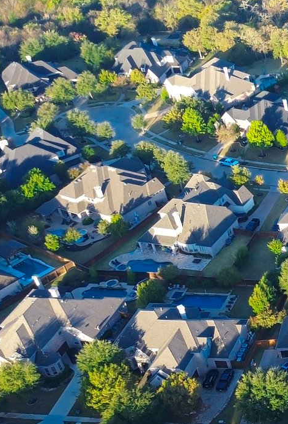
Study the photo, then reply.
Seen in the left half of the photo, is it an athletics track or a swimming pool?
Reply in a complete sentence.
It is a swimming pool that can be seen in the left half of the photo.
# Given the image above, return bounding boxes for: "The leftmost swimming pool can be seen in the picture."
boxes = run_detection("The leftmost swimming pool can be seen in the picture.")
[10,257,49,280]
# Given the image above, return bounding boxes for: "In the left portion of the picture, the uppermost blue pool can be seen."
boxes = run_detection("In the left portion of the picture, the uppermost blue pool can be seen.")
[50,226,91,244]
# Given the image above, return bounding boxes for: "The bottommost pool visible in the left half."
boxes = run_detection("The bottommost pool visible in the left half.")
[81,277,130,299]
